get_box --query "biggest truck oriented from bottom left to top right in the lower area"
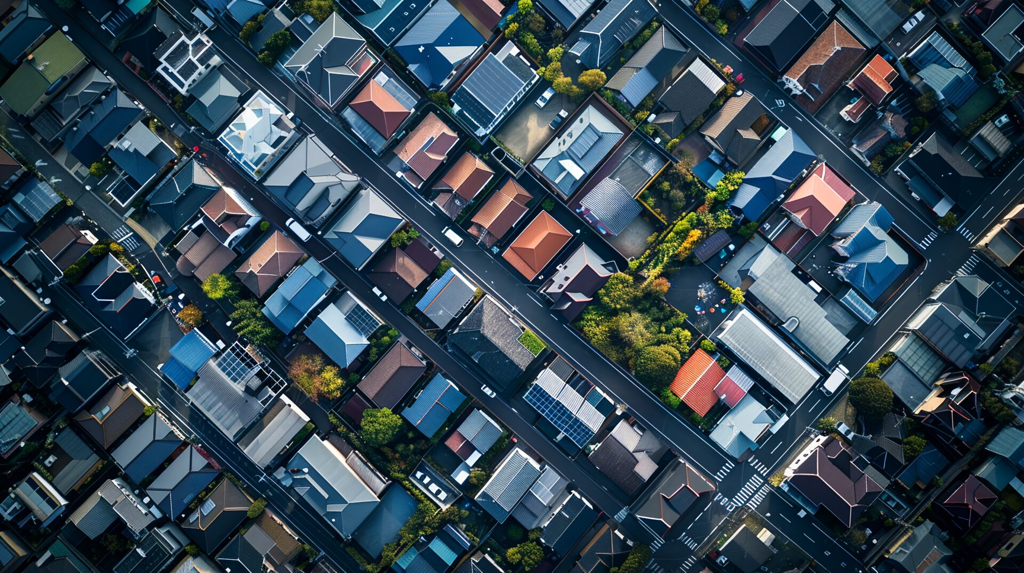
[819,364,850,396]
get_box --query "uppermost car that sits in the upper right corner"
[900,10,927,35]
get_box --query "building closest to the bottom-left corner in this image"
[0,528,33,572]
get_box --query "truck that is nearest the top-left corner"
[187,2,217,31]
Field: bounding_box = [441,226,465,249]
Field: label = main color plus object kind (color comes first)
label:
white vehicle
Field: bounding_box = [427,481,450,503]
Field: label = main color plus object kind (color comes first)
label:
white car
